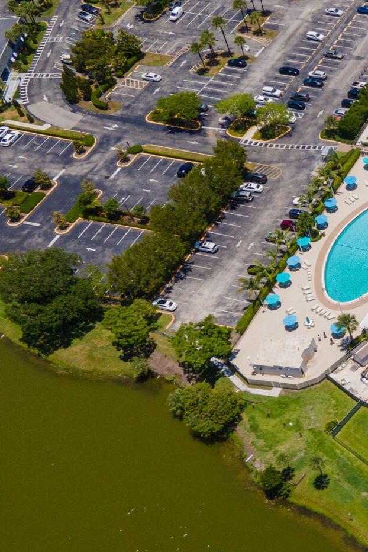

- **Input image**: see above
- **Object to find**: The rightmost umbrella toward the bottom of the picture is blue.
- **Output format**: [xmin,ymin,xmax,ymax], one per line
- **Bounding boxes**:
[329,325,344,340]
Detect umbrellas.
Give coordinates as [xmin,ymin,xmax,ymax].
[344,178,357,191]
[283,316,297,330]
[265,295,280,310]
[276,275,291,289]
[297,238,310,252]
[329,325,344,340]
[286,258,301,271]
[323,200,336,213]
[315,217,328,231]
